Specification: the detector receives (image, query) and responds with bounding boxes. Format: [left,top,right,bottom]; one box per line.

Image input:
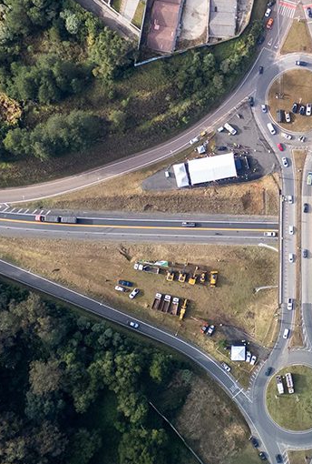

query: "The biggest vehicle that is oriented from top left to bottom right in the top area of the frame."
[224,121,237,135]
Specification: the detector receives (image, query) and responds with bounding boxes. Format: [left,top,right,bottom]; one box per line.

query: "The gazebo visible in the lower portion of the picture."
[231,345,246,359]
